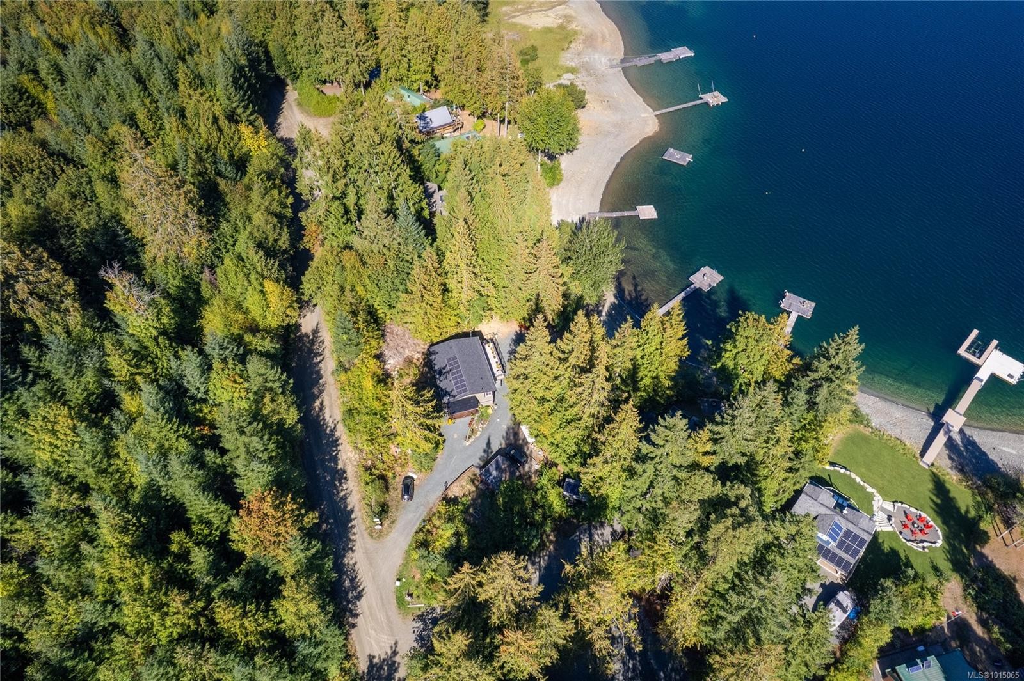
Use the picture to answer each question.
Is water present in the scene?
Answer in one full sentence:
Yes, there's water in this view.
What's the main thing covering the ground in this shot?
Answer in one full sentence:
The bulk of the photo consists of trees.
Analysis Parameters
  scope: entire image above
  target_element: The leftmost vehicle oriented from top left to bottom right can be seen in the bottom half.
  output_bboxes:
[503,443,536,470]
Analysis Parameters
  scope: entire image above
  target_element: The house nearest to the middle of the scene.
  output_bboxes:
[429,337,510,423]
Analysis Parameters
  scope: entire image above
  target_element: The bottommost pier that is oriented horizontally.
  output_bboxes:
[588,204,658,221]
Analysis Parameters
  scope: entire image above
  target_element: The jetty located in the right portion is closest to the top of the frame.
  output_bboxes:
[614,46,695,68]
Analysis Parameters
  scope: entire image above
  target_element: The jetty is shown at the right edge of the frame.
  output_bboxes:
[920,329,1024,469]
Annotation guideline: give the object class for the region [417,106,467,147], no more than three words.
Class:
building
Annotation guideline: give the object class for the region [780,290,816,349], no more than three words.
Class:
pier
